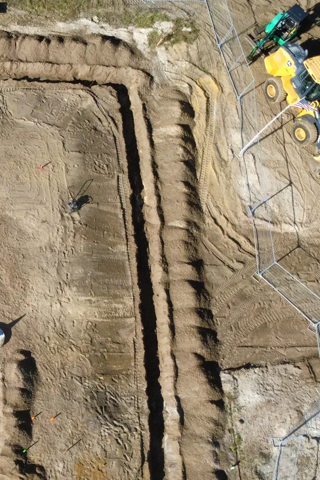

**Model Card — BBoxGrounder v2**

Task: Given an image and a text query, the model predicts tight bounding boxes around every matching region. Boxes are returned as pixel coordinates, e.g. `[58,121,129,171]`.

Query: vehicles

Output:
[244,3,314,60]
[255,43,320,178]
